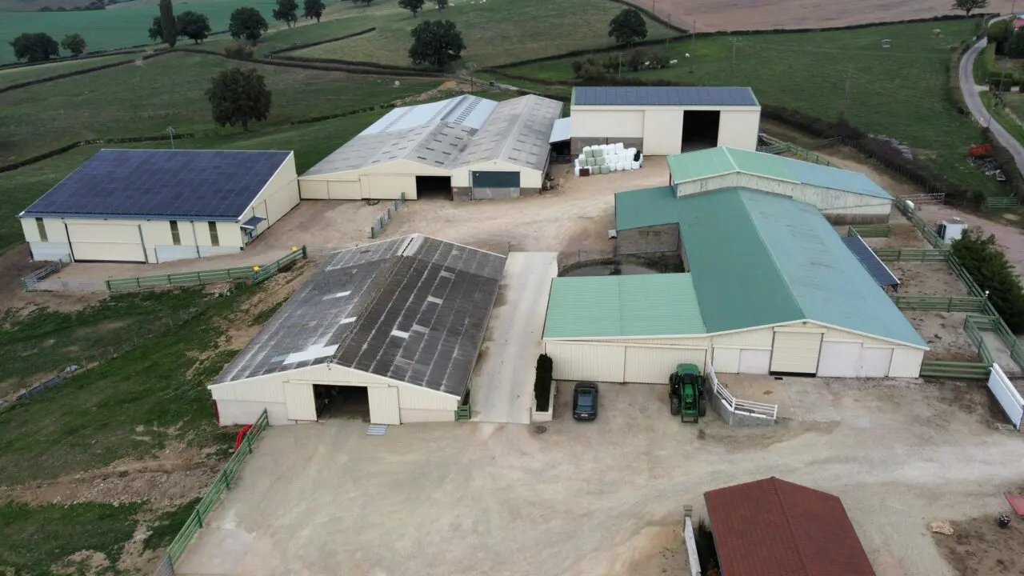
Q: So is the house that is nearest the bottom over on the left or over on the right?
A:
right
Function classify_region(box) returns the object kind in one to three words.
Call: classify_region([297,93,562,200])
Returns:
barn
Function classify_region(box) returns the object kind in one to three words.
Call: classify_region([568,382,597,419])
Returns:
car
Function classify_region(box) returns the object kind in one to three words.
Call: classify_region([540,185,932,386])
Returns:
barn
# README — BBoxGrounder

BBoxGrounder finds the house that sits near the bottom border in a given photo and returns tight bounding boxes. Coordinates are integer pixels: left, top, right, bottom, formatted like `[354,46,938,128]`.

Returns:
[701,473,876,576]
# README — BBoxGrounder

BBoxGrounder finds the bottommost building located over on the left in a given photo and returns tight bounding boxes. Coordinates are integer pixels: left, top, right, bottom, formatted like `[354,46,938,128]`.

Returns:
[207,232,506,427]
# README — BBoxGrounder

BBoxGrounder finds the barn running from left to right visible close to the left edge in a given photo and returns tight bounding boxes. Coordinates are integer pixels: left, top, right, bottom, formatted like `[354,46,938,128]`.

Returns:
[18,148,299,263]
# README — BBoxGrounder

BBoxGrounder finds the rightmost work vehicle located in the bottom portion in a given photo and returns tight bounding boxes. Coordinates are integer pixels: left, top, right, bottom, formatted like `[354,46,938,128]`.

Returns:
[669,357,709,424]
